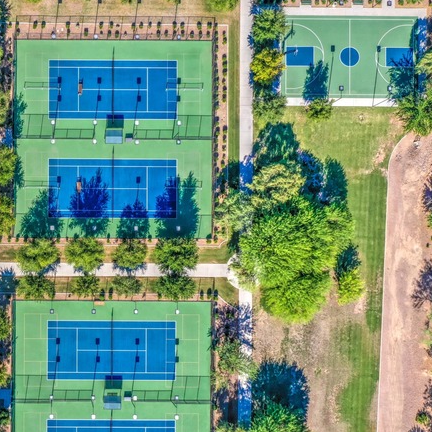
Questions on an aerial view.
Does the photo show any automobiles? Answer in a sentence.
No, the photo shows no automobile.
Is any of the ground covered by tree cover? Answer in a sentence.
Yes, there's tree cover in this view.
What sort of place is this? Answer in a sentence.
The area seen from above is a sports ground.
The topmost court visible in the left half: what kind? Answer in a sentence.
In the photo, the topmost court visible in the left half shows up as a tennis court.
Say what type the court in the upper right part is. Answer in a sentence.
I'd say the court in the upper right part is a basketball court.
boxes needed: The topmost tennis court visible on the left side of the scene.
[16,39,212,139]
